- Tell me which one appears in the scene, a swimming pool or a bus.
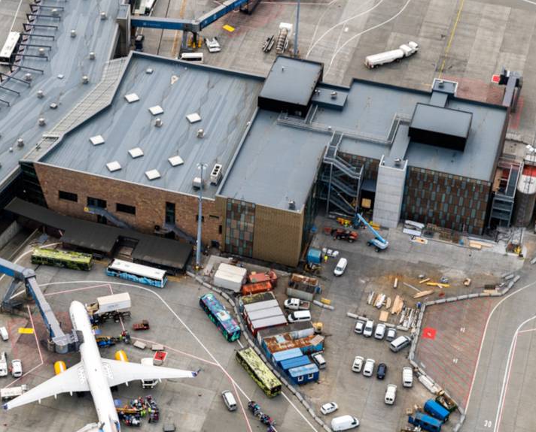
bus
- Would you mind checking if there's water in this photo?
No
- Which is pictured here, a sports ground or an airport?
airport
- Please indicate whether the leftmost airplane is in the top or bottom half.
bottom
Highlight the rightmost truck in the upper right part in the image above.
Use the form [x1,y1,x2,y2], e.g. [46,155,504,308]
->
[364,46,417,69]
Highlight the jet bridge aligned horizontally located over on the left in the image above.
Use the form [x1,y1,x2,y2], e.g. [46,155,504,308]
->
[134,0,263,47]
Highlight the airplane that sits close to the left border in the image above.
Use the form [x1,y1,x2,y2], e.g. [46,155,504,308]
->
[5,301,197,432]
